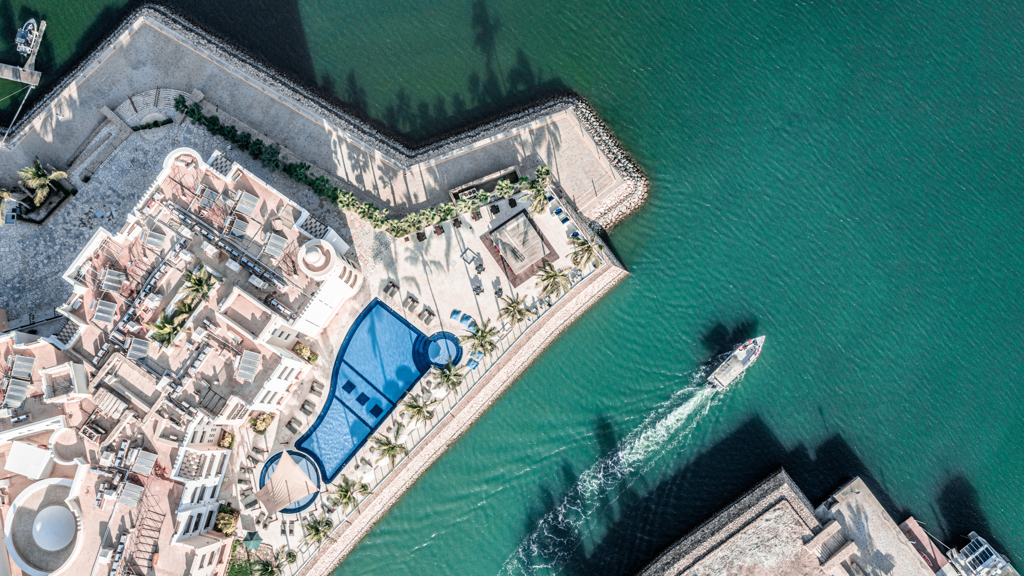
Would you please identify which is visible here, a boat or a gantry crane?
boat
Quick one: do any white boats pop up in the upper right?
No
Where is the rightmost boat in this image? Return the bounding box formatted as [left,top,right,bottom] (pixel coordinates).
[943,531,1022,576]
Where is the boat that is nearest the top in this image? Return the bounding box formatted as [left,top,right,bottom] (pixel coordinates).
[15,20,35,55]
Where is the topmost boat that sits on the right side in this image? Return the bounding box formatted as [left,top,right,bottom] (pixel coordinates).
[706,335,766,391]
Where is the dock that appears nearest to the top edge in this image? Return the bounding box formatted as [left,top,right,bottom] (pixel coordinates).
[0,20,48,90]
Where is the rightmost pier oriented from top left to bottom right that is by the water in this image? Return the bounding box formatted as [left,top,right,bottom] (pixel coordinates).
[896,515,947,573]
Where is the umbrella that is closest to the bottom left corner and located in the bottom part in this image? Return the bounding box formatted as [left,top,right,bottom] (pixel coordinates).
[242,531,263,551]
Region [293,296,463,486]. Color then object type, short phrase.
blue swimming pool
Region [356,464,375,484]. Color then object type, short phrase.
white umbrella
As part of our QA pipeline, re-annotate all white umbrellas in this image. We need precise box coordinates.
[368,444,388,464]
[390,424,409,443]
[404,412,424,432]
[356,464,375,484]
[429,380,450,400]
